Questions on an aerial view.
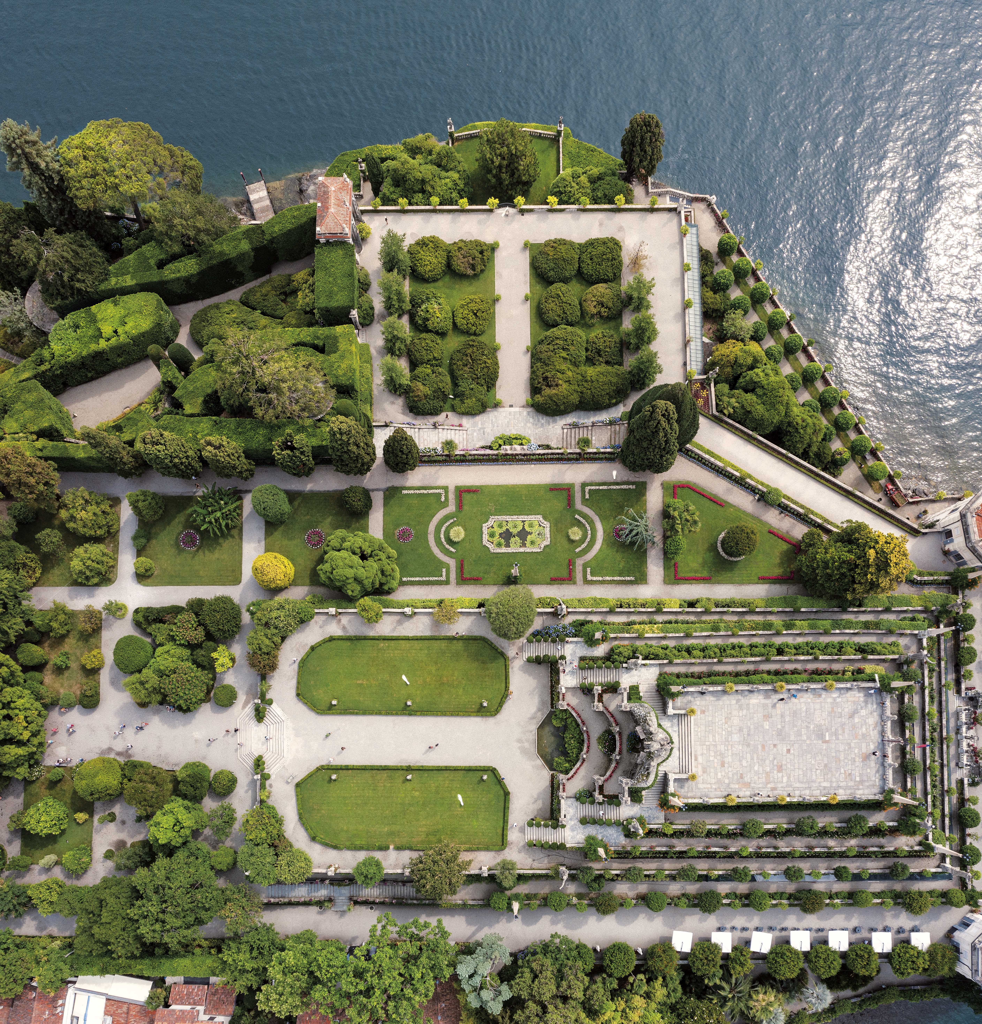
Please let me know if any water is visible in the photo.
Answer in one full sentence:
Yes, there's water in this view.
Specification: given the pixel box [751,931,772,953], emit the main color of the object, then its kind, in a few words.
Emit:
white umbrella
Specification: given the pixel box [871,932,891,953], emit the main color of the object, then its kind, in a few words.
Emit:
white umbrella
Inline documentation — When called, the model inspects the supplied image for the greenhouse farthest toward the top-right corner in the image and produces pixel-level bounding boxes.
[685,223,704,375]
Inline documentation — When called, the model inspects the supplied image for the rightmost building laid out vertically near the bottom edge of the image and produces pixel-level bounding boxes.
[945,904,982,990]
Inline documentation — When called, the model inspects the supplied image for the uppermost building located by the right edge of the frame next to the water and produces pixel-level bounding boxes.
[927,487,982,576]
